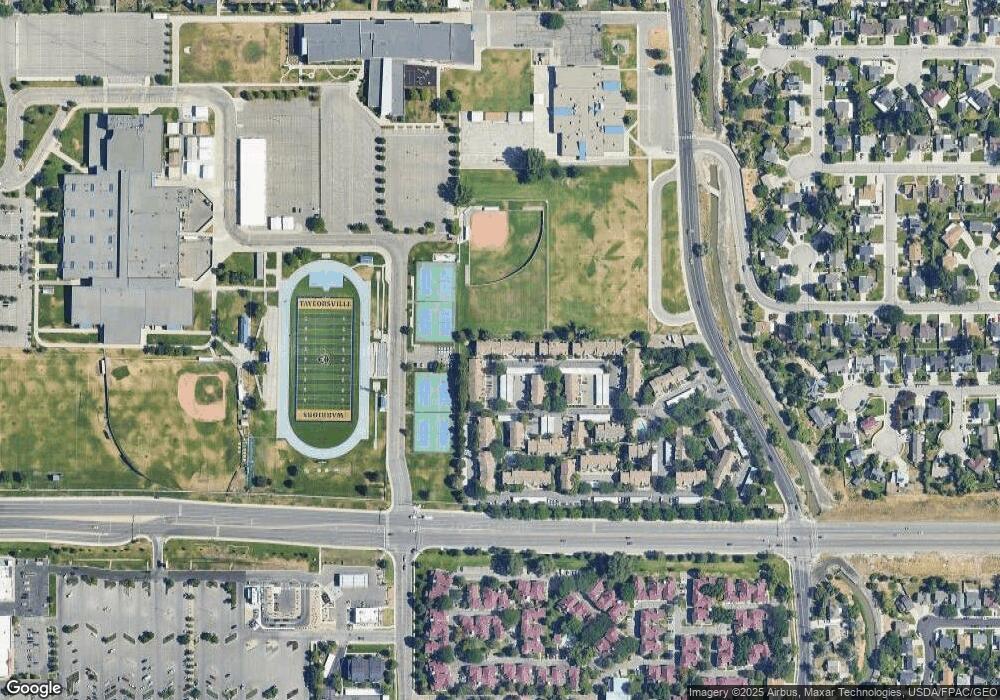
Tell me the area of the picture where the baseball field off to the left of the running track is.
left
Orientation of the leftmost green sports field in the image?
vertically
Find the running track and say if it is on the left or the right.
left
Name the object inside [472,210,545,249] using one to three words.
baseball field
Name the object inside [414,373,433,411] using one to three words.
tennis court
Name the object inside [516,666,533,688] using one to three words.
house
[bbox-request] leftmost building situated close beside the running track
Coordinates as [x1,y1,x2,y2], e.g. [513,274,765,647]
[62,113,213,344]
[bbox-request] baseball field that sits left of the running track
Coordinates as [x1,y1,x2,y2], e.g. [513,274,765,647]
[179,374,229,420]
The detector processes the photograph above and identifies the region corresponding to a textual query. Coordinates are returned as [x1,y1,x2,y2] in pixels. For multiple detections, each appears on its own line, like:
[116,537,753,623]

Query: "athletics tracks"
[277,260,371,459]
